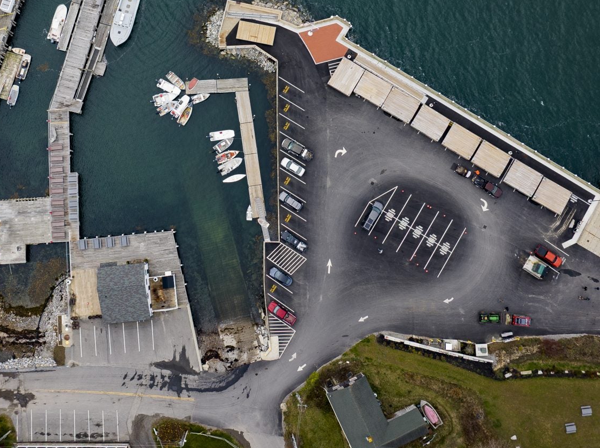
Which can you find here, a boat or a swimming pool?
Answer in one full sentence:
There is a boat in the scene.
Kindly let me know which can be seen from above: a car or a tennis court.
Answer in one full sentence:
Visible in the photo is a car.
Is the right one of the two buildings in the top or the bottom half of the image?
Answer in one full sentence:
The right one of the two buildings is in the bottom half of the image.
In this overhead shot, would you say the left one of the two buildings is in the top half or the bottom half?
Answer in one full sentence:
It is in the bottom half that the left one of the two buildings appears.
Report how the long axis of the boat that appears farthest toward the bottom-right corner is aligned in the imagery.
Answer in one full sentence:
The boat that appears farthest toward the bottom-right corner has been laid out on a diagonal relative to the frame.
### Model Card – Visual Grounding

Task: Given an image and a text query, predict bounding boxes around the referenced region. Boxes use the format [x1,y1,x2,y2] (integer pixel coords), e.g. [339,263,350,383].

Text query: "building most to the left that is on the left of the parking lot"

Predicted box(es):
[96,261,153,323]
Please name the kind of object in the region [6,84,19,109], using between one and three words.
boat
